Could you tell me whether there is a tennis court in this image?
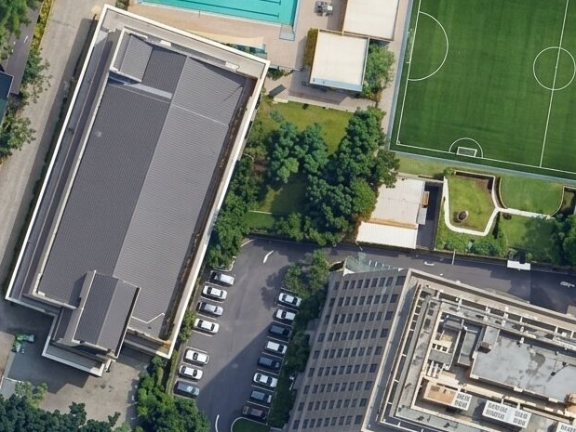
No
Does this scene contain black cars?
Yes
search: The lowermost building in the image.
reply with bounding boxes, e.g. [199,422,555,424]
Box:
[295,269,576,432]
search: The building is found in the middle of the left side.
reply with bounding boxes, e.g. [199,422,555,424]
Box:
[3,6,270,376]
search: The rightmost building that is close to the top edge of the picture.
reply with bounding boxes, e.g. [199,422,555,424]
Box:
[341,0,399,42]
